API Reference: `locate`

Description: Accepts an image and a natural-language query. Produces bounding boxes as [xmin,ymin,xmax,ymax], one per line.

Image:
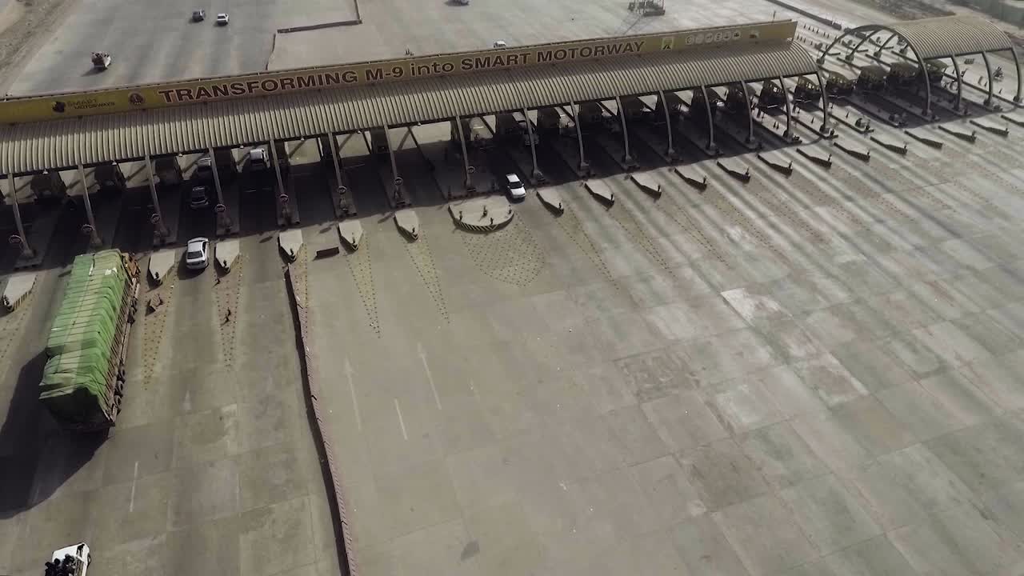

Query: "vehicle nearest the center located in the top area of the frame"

[503,171,528,196]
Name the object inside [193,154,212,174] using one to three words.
car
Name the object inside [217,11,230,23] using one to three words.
vehicle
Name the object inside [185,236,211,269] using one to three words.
car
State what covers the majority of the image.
paved ground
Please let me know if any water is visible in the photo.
No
